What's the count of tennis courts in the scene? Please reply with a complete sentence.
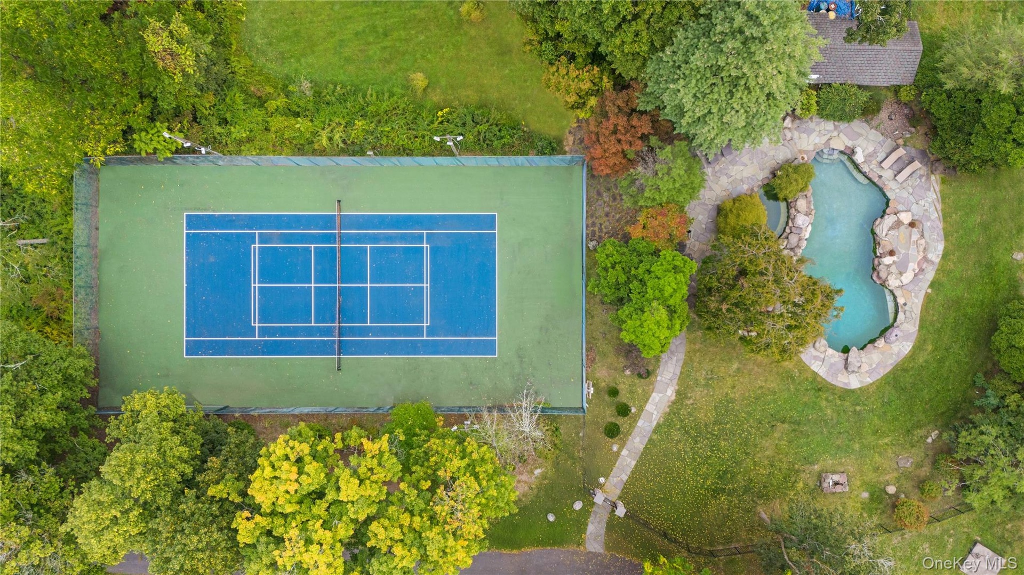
Just 1 tennis court appears in this view.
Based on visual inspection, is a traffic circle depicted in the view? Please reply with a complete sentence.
No, there isn't any traffic circle down there.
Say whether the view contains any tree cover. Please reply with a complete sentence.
Yes, tree cover can be seen from above here.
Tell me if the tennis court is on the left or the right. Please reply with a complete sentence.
The tennis court is on the left side of the image.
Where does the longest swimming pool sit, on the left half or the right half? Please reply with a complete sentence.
The longest swimming pool is on the right side of the image.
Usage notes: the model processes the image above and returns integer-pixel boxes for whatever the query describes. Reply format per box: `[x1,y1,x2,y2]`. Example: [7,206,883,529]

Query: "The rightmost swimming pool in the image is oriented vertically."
[802,143,907,361]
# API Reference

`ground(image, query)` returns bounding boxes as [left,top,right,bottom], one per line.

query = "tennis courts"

[98,165,583,408]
